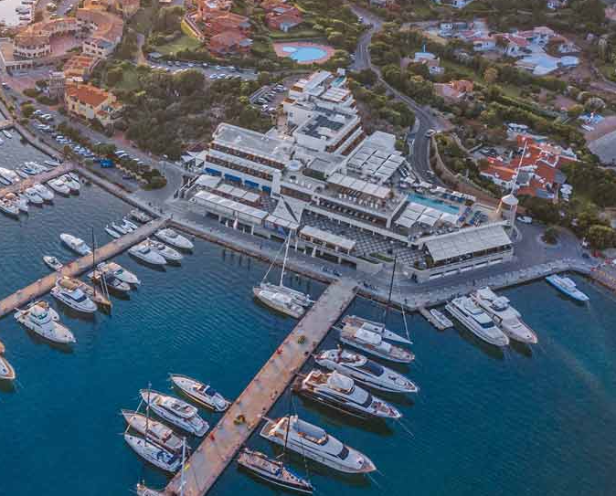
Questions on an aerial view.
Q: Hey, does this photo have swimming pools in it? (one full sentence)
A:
Yes, the photo shows a swimming pool.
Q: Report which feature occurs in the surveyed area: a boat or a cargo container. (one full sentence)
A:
Visible in the photo is a boat.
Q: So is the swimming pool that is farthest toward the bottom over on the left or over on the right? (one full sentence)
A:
It is on the right.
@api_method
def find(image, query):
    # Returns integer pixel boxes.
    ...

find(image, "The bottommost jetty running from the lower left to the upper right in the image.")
[165,280,361,496]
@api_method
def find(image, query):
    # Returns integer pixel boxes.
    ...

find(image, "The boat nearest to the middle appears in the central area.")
[254,240,312,320]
